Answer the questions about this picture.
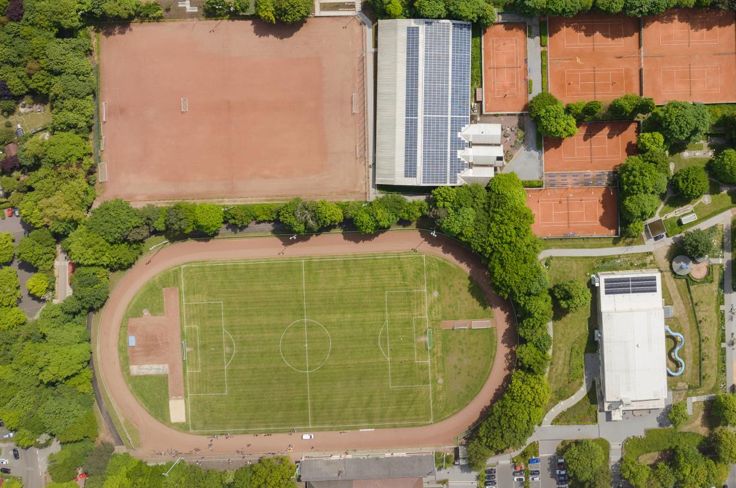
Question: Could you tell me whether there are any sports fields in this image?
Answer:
Yes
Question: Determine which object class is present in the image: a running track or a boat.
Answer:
running track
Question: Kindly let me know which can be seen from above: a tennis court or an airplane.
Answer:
tennis court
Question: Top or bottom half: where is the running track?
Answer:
bottom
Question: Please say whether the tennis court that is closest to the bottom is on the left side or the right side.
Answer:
right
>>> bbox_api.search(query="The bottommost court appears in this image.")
[523,187,619,238]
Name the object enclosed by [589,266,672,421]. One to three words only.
building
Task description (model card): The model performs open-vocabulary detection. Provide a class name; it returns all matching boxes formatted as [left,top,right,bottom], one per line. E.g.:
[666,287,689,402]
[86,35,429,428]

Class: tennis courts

[542,120,641,172]
[643,55,736,105]
[483,22,528,113]
[549,60,642,104]
[547,15,641,62]
[523,187,619,238]
[643,10,736,57]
